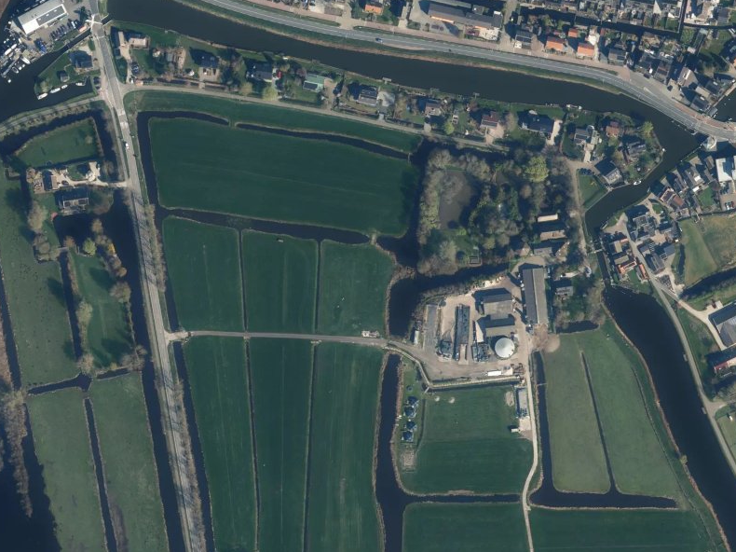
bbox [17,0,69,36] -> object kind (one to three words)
shed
